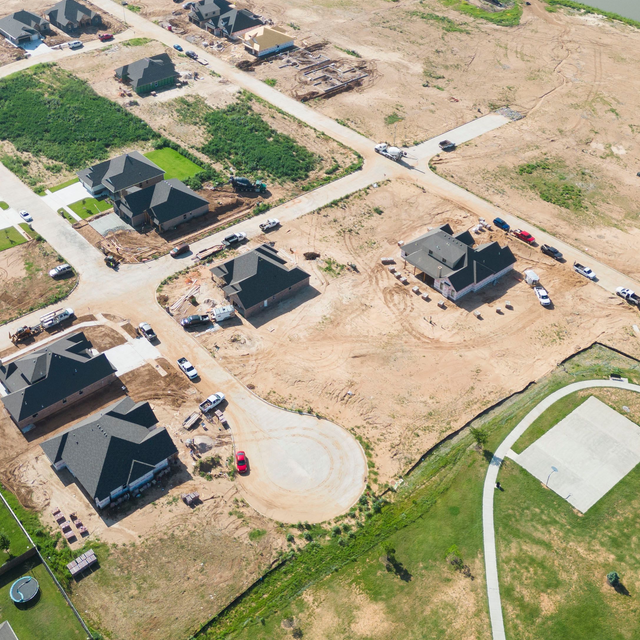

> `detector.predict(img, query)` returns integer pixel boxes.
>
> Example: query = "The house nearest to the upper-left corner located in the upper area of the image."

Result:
[0,10,53,46]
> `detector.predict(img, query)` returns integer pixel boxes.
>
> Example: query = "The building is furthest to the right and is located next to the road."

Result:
[400,216,522,300]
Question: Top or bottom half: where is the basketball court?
bottom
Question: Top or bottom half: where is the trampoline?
bottom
